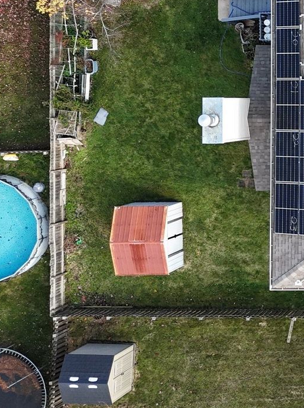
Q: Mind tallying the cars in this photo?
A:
0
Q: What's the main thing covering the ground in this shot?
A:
grass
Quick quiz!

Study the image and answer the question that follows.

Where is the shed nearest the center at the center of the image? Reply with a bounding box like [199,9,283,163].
[109,203,183,276]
